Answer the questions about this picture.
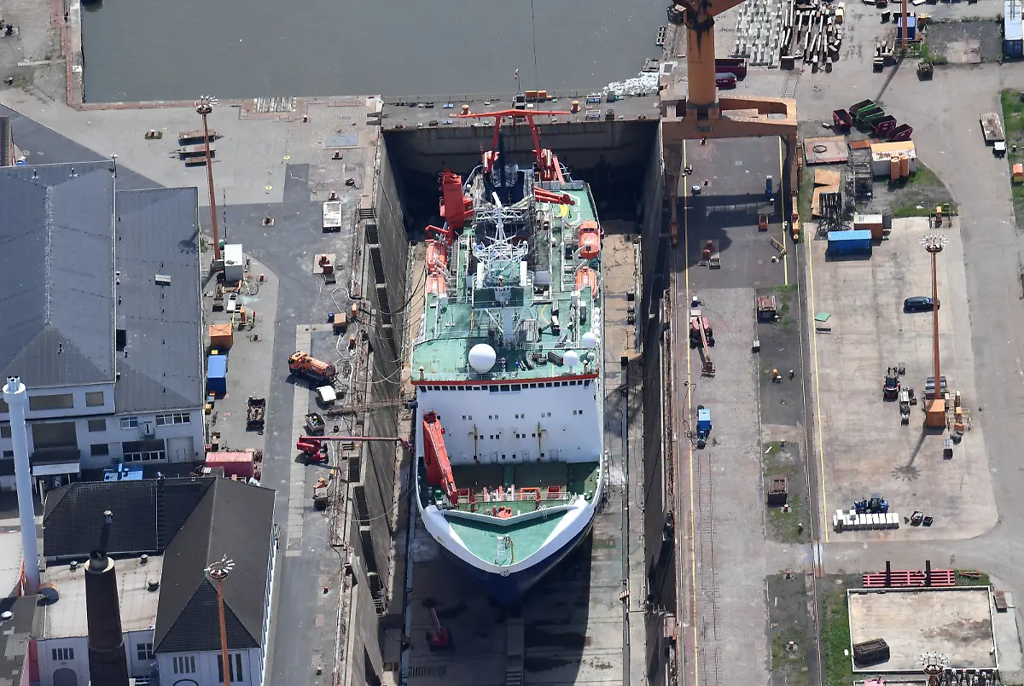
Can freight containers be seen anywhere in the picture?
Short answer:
Yes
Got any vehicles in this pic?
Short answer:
Yes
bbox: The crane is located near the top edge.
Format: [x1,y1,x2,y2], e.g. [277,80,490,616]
[659,0,800,274]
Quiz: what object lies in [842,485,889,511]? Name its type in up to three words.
work vehicle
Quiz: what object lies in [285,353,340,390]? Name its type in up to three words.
truck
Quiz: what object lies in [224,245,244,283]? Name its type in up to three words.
building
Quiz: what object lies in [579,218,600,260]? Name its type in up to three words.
boat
